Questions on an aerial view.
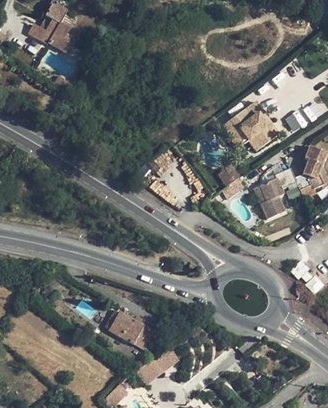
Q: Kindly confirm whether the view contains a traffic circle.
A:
Yes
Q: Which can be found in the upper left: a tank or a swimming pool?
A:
swimming pool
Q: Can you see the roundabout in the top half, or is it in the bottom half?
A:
bottom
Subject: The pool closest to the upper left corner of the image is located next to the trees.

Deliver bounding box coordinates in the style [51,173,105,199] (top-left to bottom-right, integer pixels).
[38,50,74,76]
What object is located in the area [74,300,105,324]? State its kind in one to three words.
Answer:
swimming pool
